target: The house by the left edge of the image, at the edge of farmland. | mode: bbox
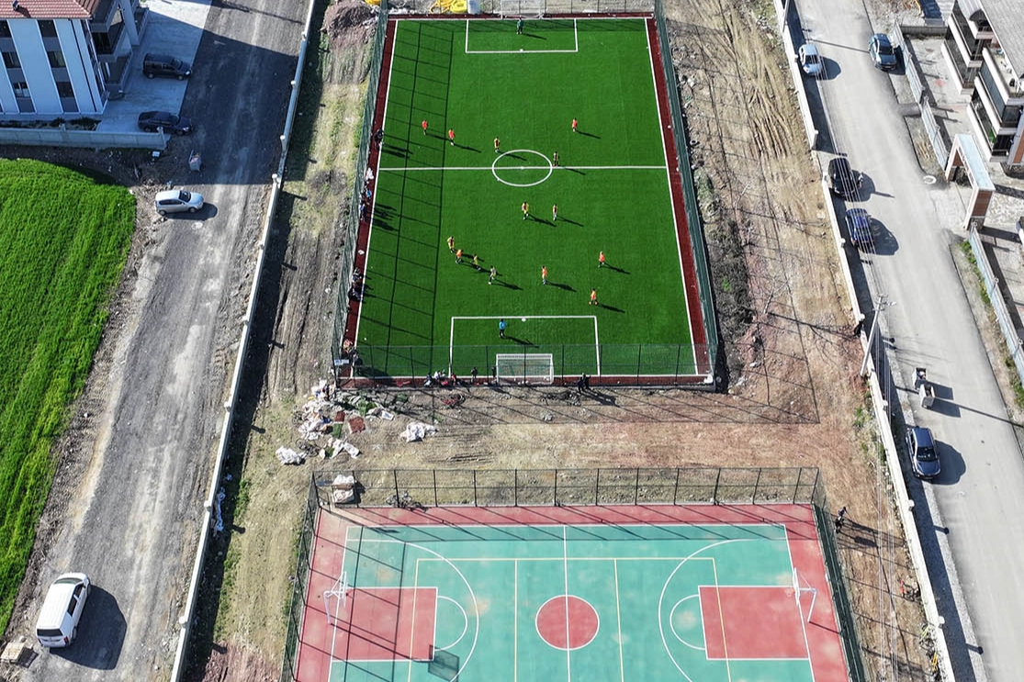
[0,0,148,113]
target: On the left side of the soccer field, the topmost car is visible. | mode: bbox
[142,53,194,79]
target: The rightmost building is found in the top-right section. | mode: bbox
[935,0,1024,182]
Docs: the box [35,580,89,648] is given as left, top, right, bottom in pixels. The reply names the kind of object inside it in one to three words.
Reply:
van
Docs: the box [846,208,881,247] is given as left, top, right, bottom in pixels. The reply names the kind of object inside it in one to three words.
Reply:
car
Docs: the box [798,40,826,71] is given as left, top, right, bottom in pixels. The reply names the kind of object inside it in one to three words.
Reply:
car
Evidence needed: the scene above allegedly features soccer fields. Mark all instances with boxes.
[334,12,717,389]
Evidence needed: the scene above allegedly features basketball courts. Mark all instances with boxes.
[293,502,850,682]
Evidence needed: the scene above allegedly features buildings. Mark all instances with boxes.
[0,0,148,113]
[935,0,1024,182]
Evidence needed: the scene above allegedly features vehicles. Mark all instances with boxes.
[828,153,860,195]
[153,188,208,215]
[871,29,900,63]
[798,40,826,71]
[35,580,89,648]
[906,422,946,475]
[846,208,881,247]
[138,109,194,134]
[142,53,194,79]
